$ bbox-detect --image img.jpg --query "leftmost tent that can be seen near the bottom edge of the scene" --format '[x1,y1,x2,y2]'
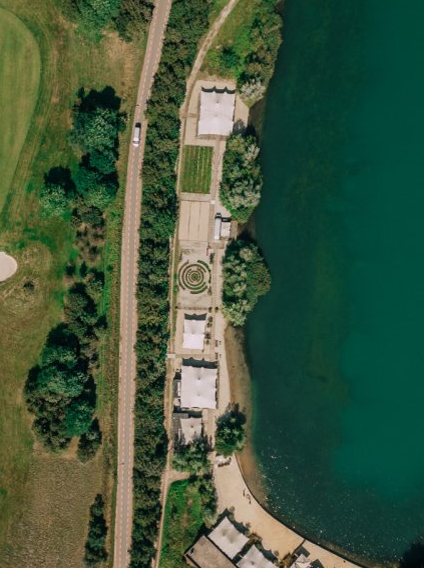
[207,514,249,557]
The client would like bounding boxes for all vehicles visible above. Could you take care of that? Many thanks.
[133,126,142,148]
[213,215,222,241]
